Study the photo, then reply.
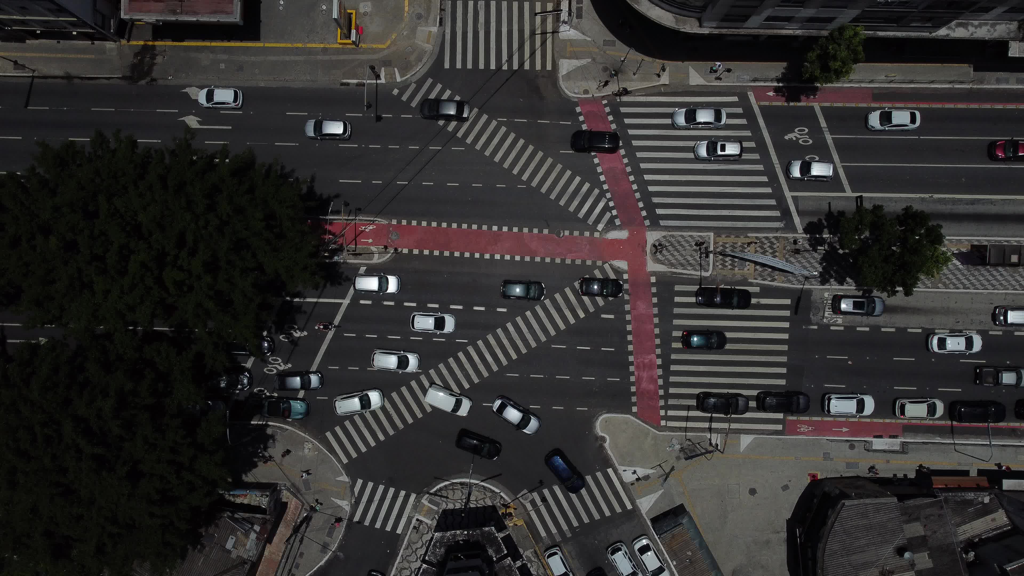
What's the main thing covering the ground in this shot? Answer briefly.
paved ground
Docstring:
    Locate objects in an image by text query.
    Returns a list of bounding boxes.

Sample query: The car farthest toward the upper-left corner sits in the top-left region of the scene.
[199,85,245,111]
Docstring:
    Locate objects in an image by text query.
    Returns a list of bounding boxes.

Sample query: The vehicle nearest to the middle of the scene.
[501,278,545,302]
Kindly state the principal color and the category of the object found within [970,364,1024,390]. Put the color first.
black vehicle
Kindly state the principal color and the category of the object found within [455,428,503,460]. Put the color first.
black car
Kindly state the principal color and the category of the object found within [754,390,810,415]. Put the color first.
black car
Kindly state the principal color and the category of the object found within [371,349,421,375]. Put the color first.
white car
